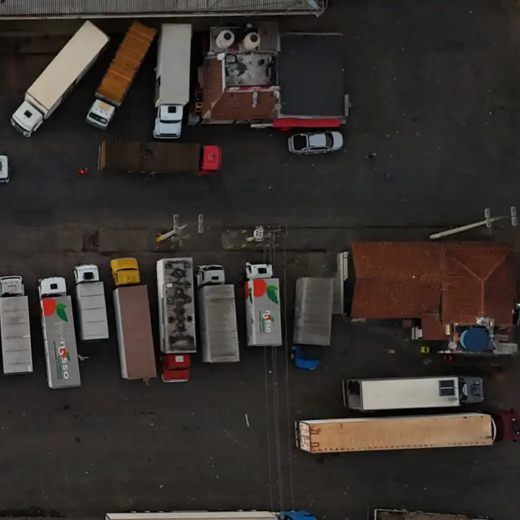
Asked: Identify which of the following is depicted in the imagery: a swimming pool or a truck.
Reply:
truck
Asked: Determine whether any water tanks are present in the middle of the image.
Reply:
No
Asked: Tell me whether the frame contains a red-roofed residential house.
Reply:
Yes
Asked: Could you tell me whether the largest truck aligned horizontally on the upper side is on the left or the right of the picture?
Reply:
left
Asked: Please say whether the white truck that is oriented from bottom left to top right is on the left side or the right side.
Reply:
left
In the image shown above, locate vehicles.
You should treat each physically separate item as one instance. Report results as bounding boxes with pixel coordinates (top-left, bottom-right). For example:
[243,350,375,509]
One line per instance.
[93,141,220,177]
[83,24,157,131]
[102,508,317,520]
[0,277,33,375]
[70,262,110,342]
[34,274,80,389]
[291,408,520,454]
[286,129,343,156]
[7,24,109,142]
[106,256,156,379]
[151,24,191,143]
[357,507,495,520]
[287,278,331,371]
[339,375,483,410]
[240,260,281,347]
[154,258,196,383]
[193,266,240,364]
